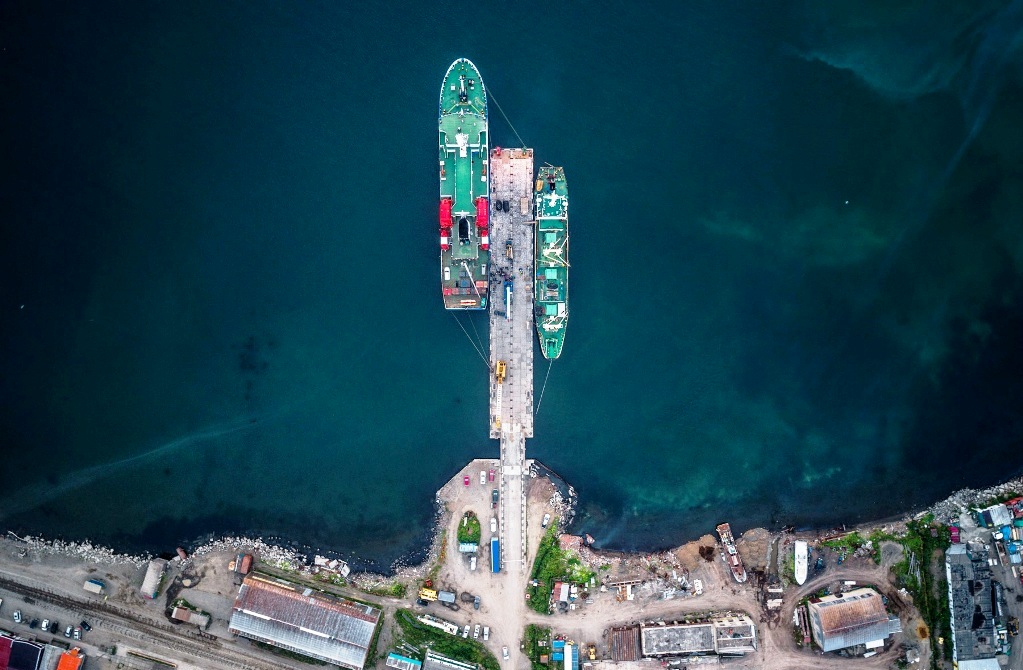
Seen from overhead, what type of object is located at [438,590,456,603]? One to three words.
vehicle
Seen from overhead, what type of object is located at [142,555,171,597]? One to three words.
shed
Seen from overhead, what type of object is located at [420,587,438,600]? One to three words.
vehicle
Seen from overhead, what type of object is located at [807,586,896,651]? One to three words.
building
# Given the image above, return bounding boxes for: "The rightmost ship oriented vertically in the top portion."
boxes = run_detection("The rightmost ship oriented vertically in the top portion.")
[535,162,570,358]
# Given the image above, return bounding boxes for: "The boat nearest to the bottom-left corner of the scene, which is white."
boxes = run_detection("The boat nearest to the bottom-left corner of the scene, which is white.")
[418,616,457,634]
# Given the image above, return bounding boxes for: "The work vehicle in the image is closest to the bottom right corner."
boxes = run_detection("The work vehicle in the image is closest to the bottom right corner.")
[1007,617,1020,638]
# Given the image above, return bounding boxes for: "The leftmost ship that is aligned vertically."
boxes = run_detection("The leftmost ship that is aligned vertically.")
[439,58,490,310]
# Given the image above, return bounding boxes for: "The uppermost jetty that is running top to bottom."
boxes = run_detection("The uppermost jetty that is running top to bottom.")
[489,149,533,438]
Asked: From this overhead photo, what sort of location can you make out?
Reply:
port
